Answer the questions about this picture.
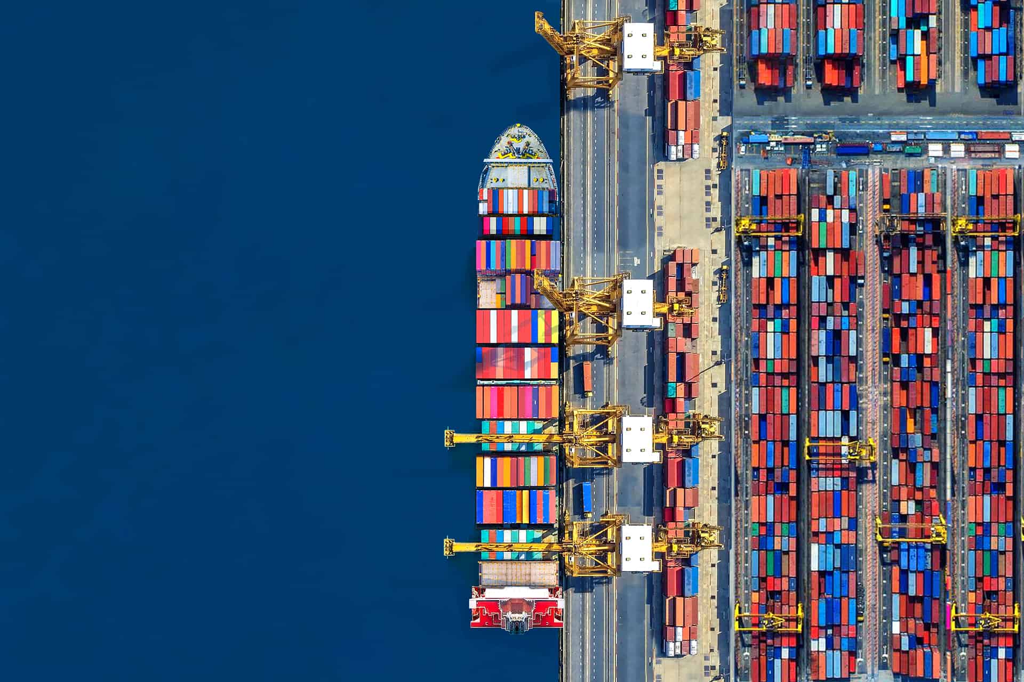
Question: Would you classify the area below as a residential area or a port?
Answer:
port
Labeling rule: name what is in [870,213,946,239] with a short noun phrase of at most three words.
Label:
container crane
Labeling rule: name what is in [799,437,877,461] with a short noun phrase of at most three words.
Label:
container crane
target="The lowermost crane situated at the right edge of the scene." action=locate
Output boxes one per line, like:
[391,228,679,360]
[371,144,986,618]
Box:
[942,604,1020,631]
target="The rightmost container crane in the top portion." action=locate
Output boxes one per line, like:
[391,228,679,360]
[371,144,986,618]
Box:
[942,214,1020,241]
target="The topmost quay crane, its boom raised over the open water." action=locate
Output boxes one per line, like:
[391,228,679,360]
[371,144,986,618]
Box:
[536,10,722,96]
